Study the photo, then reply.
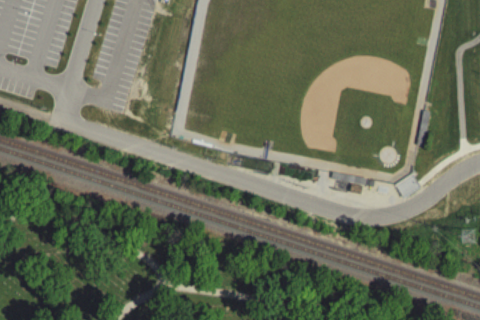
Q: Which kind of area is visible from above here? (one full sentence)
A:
The area seen from above is a sports ground.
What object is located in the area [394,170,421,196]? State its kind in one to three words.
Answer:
building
